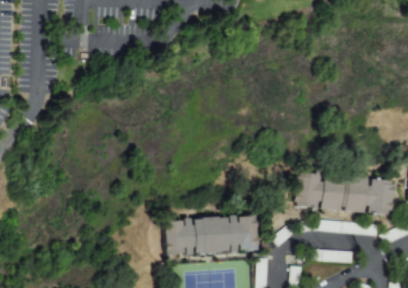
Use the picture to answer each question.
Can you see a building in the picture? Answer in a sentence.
Yes, a building can be made out from above.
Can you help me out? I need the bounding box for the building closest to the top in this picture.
[296,172,395,214]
